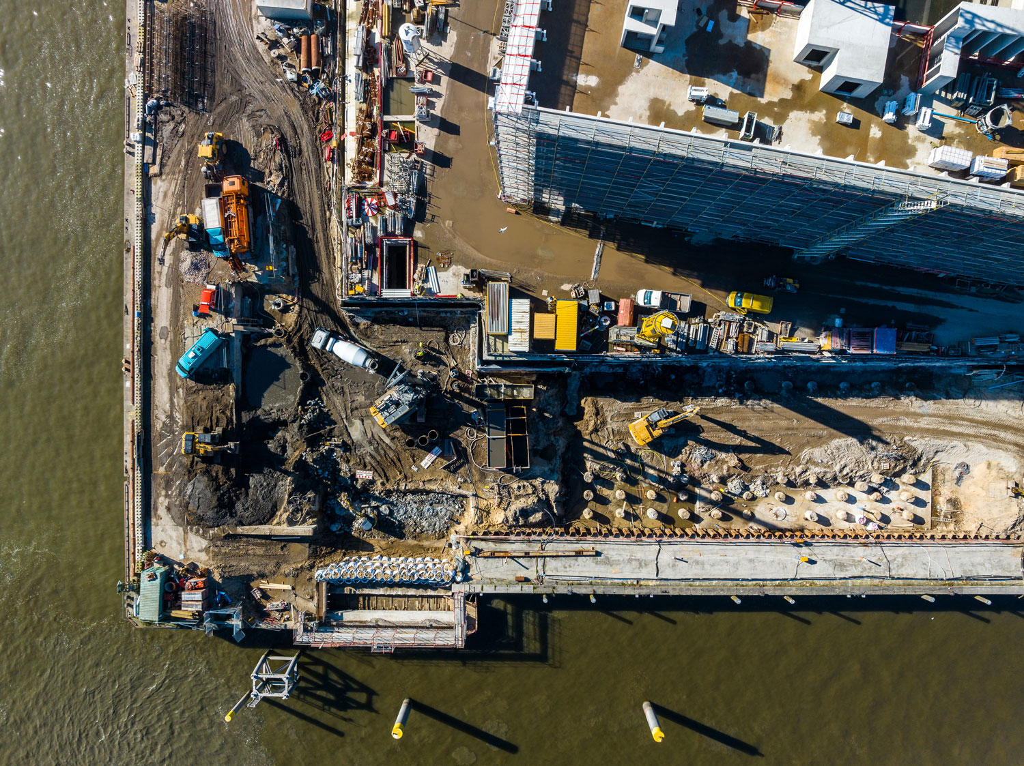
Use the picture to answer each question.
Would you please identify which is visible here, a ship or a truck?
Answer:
truck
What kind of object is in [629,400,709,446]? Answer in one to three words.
work vehicle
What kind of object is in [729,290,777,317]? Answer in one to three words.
vehicle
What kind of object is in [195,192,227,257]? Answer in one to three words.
truck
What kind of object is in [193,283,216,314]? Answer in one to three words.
truck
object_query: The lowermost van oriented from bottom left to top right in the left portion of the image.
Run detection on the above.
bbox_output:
[175,329,233,382]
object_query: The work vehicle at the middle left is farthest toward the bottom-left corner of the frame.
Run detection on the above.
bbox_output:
[169,428,241,464]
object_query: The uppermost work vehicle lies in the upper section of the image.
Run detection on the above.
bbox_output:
[193,122,227,192]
